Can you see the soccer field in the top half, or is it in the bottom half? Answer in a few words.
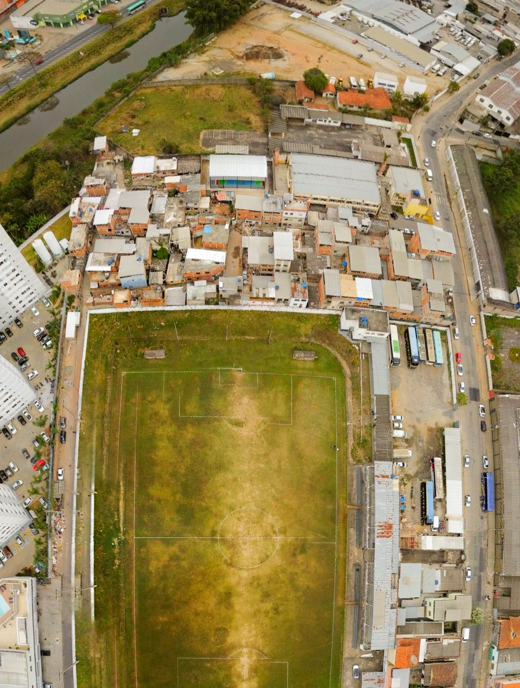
bottom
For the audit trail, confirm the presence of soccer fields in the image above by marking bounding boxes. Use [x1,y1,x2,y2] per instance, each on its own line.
[111,366,347,688]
